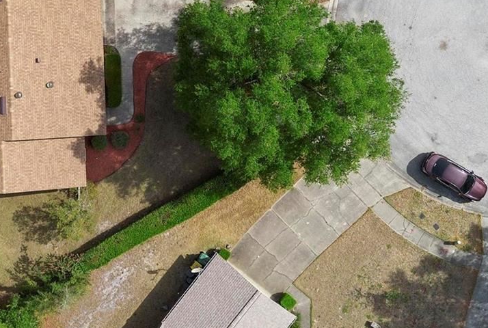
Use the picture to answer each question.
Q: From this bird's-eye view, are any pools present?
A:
No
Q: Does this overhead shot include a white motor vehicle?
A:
No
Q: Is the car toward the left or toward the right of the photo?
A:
right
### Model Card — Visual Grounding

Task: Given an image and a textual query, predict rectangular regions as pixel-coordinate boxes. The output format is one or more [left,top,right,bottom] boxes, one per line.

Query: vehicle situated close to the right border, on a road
[416,151,487,202]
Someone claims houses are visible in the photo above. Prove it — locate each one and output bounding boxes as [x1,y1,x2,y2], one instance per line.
[146,252,298,328]
[0,0,106,194]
